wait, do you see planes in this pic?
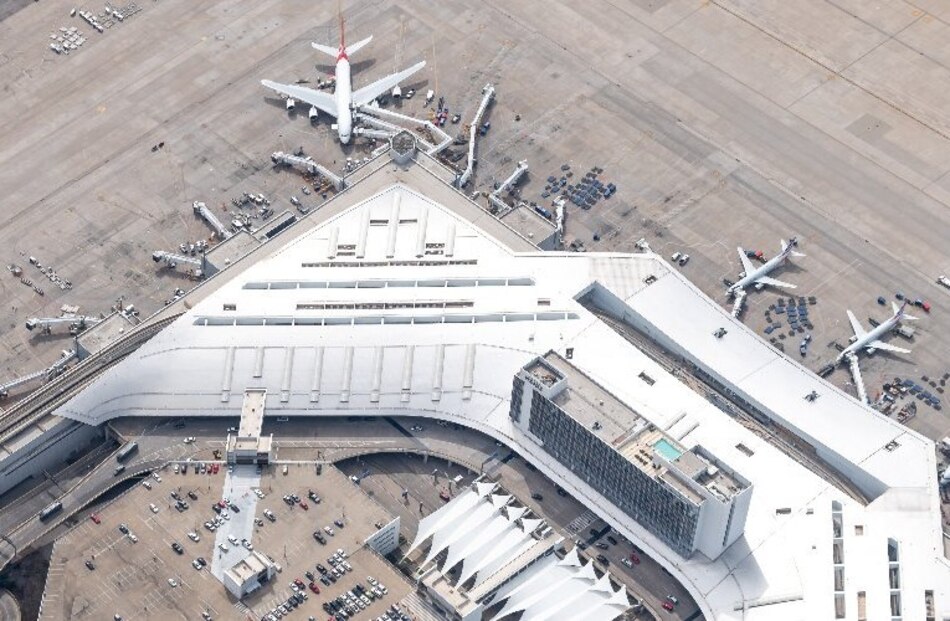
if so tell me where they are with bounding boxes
[725,236,805,295]
[260,17,424,146]
[837,299,917,361]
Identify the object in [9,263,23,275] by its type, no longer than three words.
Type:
vehicle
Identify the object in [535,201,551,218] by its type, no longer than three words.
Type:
vehicle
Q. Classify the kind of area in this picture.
airport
